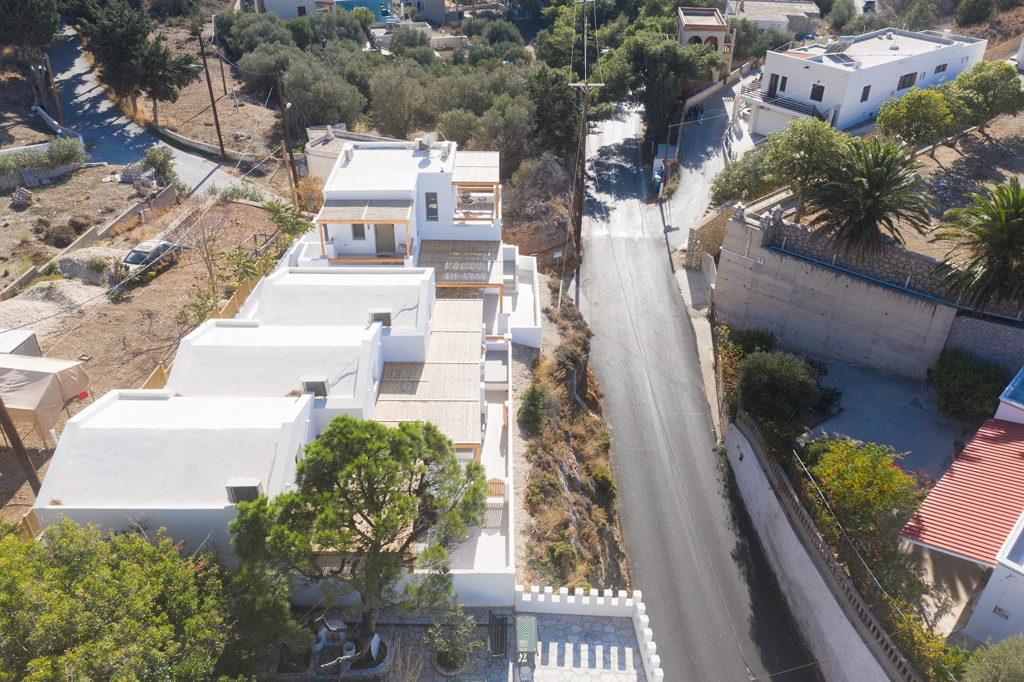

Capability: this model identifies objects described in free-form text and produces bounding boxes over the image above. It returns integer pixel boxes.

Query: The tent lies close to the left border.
[0,357,93,449]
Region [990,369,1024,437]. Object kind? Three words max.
house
